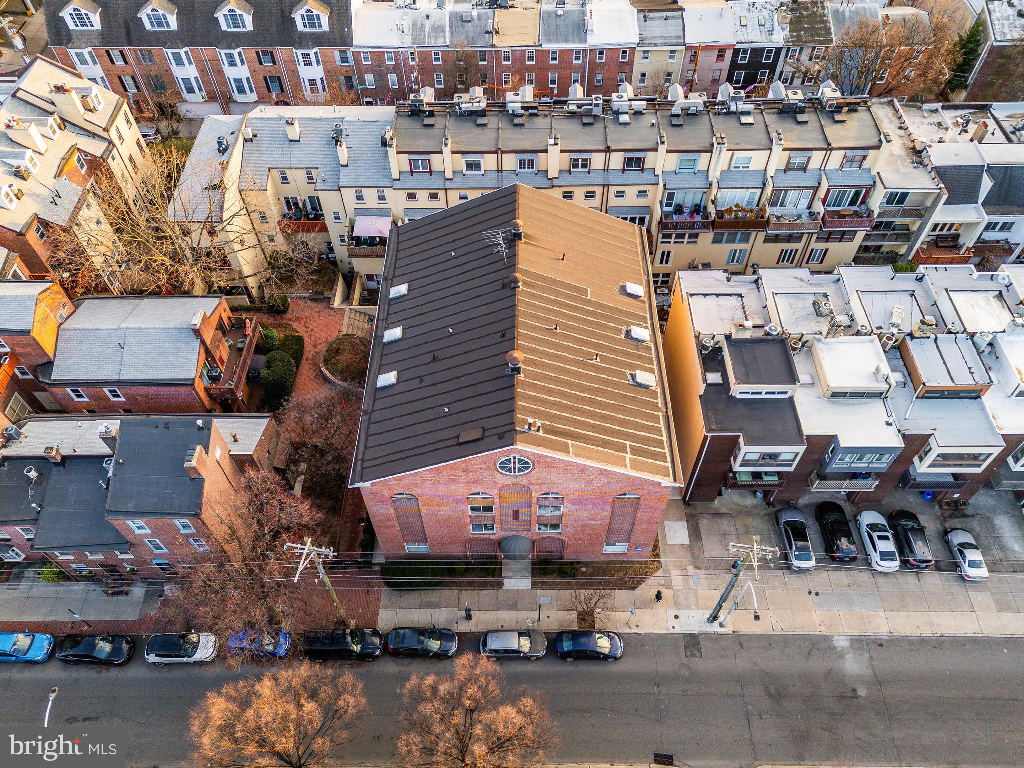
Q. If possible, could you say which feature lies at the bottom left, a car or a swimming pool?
car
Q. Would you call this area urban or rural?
urban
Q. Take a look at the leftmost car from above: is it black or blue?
blue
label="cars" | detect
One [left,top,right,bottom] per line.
[387,628,458,663]
[941,526,990,577]
[141,127,168,147]
[50,628,137,663]
[773,510,817,568]
[480,627,546,663]
[886,509,935,567]
[139,627,220,663]
[556,628,624,663]
[854,510,901,568]
[0,628,58,663]
[297,625,385,664]
[814,499,858,557]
